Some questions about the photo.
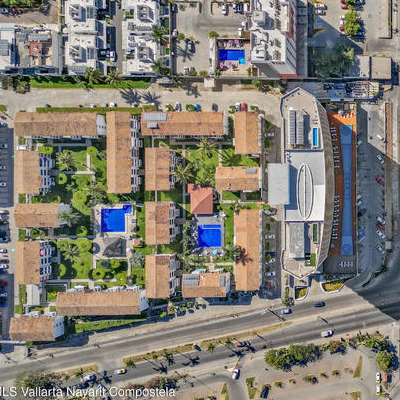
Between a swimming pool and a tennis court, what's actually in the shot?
swimming pool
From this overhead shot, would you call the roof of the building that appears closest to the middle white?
No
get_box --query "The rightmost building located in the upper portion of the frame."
[371,58,391,82]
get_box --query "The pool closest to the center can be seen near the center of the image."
[197,225,222,248]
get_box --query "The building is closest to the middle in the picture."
[188,184,214,215]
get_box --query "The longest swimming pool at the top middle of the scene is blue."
[217,49,245,62]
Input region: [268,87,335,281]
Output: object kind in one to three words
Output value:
building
